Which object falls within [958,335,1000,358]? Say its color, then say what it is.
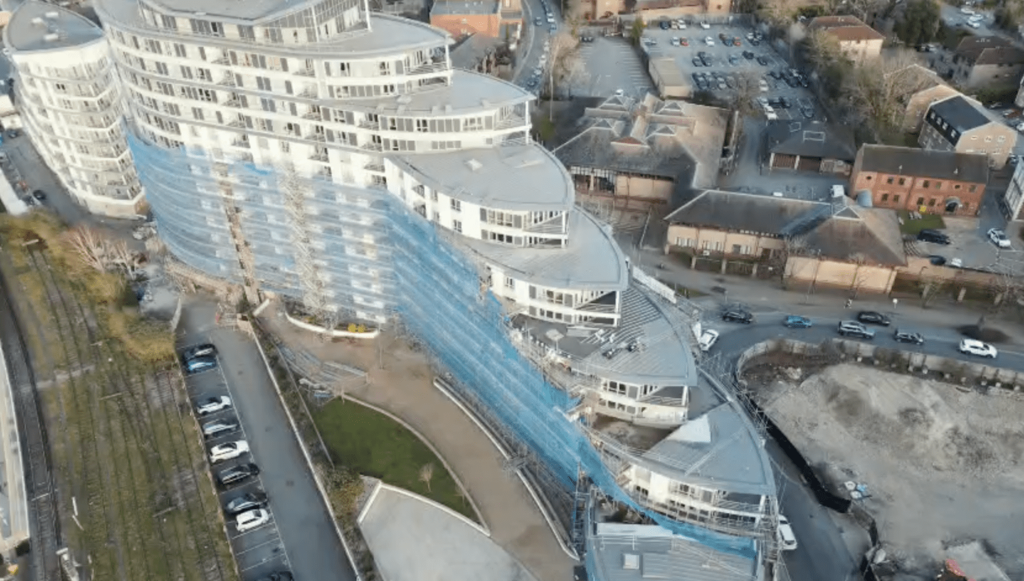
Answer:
white car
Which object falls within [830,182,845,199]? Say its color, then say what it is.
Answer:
white vehicle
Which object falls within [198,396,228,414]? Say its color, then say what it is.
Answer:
white car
